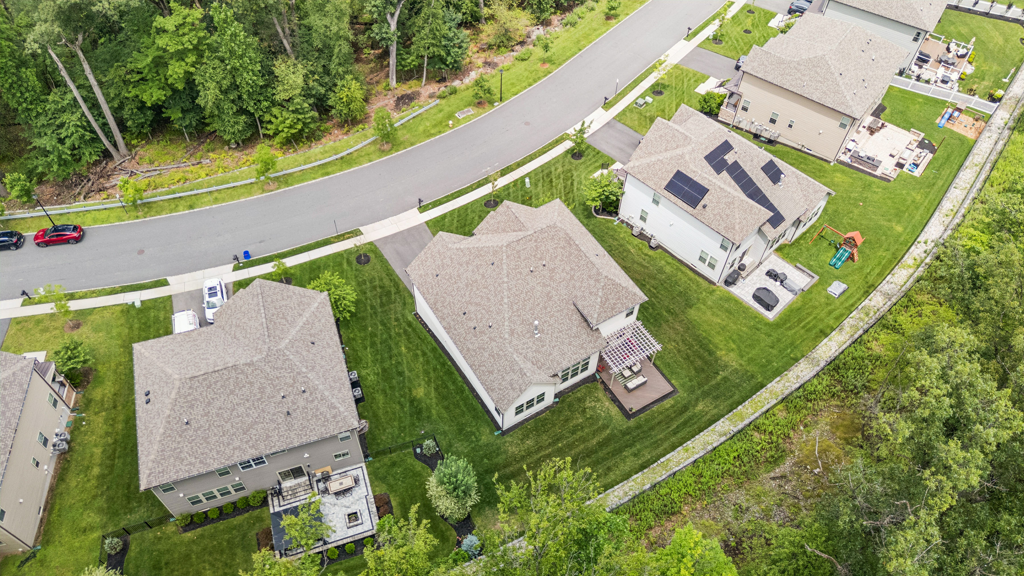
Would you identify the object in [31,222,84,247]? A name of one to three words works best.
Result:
car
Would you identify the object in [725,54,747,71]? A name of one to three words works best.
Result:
car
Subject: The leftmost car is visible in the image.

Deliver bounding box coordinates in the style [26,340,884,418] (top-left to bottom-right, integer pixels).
[0,228,25,250]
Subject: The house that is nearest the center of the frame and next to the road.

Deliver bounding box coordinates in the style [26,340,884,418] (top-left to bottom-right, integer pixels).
[401,197,652,432]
